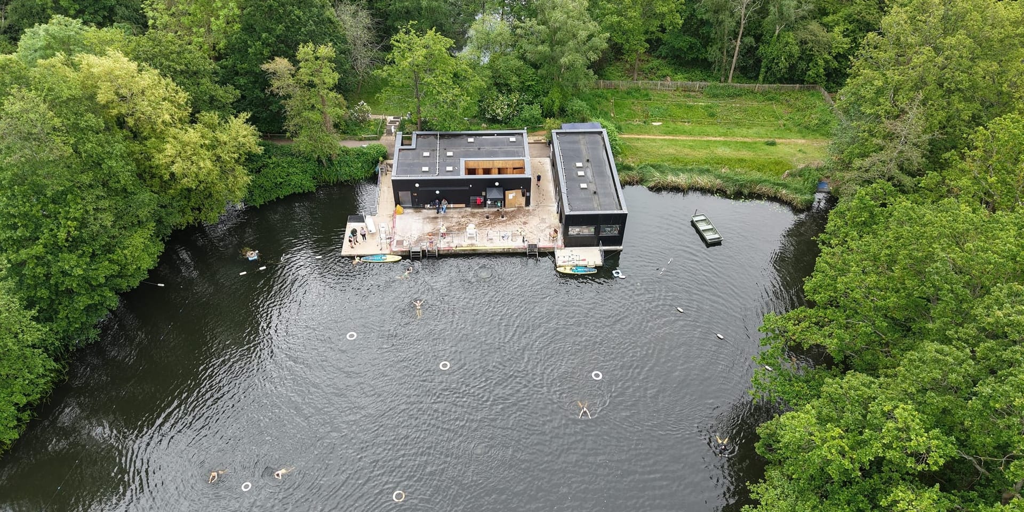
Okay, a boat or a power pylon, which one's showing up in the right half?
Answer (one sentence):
The feature located in the right half is a boat.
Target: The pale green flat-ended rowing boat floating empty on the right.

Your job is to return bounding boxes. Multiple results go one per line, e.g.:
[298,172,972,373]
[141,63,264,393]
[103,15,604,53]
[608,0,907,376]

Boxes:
[694,210,723,241]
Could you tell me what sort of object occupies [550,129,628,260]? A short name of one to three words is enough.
building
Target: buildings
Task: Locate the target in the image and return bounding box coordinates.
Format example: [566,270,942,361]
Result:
[550,129,628,260]
[391,131,532,209]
